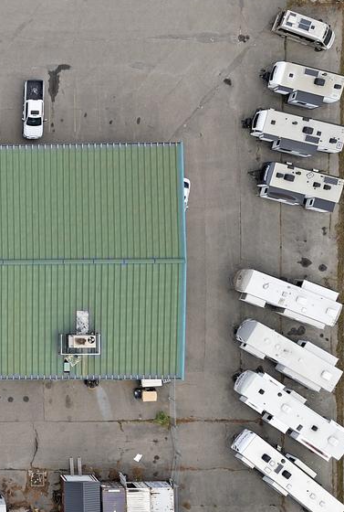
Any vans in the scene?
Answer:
Yes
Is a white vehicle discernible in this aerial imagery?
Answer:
Yes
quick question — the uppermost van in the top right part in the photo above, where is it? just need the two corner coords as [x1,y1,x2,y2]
[267,11,331,53]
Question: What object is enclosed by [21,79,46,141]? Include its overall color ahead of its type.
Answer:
white truck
